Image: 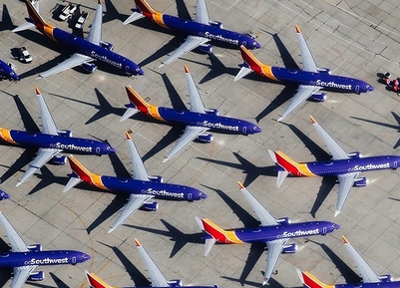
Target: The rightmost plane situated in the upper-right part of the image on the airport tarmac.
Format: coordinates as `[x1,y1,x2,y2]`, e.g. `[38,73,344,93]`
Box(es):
[233,25,374,121]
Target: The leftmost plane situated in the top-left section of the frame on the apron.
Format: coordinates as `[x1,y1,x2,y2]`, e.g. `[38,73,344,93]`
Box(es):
[0,61,18,80]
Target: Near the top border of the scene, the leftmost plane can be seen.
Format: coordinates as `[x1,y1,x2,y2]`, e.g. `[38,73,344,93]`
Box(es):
[11,0,144,80]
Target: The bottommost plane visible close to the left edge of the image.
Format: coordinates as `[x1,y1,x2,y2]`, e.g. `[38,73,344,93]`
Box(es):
[0,210,90,288]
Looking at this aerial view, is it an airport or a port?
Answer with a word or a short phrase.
airport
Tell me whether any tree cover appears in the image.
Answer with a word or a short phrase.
No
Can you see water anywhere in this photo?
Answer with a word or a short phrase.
No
